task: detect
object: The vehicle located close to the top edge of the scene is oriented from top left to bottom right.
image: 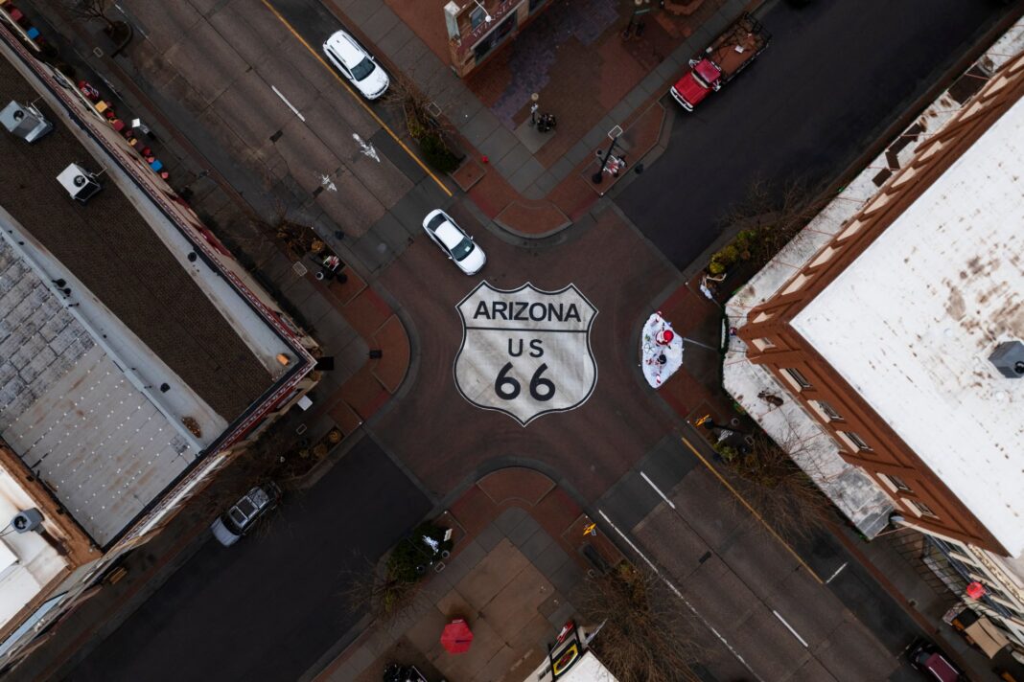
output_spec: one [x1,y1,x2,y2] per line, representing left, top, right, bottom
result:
[323,29,391,102]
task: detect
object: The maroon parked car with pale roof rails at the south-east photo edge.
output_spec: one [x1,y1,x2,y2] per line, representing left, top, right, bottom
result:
[892,631,964,682]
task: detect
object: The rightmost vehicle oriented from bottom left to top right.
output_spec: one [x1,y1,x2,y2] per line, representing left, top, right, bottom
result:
[668,6,775,115]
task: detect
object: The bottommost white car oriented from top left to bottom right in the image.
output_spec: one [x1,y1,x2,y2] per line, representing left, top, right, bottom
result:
[423,207,486,276]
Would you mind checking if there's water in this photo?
No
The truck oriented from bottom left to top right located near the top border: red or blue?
red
